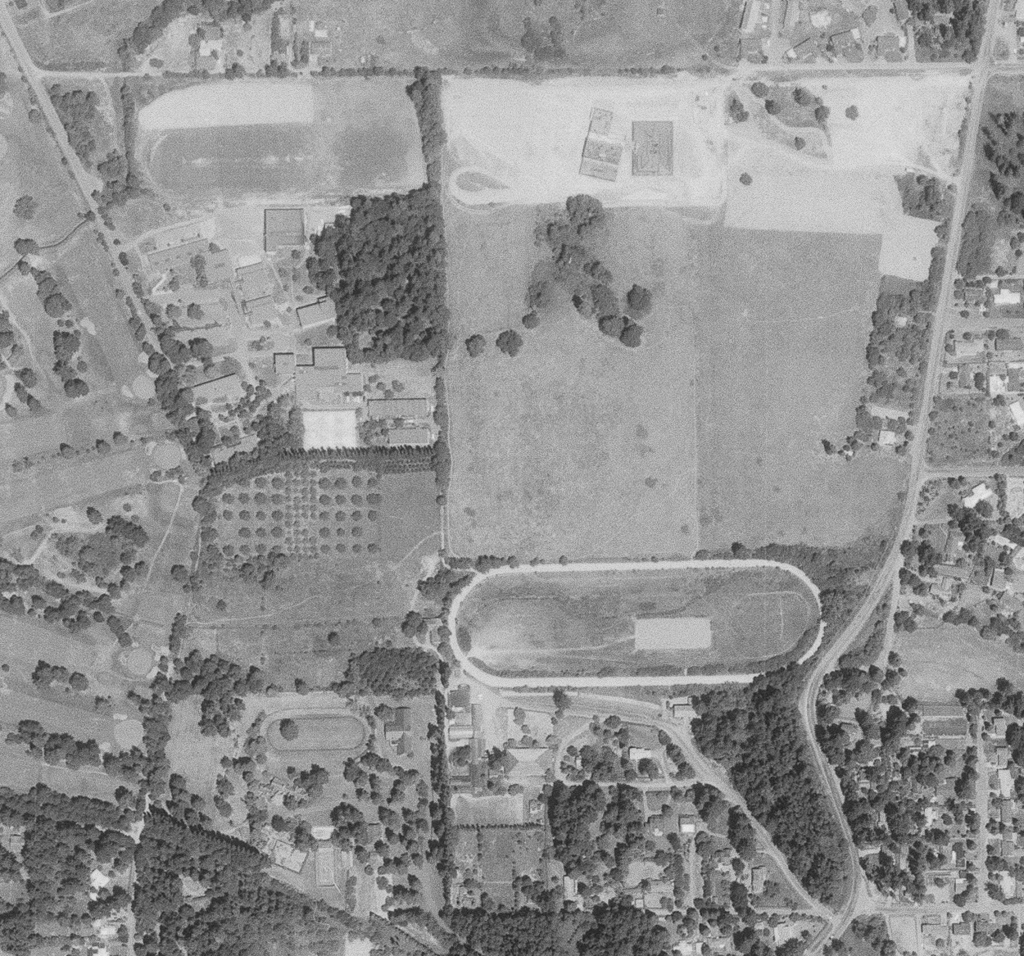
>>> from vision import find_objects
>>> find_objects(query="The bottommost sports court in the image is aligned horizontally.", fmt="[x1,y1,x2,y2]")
[635,618,710,650]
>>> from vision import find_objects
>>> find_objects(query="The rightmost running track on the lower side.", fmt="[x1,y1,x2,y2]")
[449,558,768,687]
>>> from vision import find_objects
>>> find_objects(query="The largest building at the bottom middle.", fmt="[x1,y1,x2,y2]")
[506,747,556,777]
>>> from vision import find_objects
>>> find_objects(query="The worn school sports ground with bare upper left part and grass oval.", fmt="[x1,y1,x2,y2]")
[134,74,428,198]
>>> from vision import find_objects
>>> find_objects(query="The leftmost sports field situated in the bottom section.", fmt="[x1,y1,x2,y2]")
[270,719,363,747]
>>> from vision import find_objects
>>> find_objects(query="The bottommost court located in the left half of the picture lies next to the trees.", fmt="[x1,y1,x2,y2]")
[304,412,356,449]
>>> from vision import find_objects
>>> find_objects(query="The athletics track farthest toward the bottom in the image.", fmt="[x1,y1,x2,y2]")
[262,710,371,756]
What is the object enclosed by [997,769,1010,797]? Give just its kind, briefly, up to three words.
house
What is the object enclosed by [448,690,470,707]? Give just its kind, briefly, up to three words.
building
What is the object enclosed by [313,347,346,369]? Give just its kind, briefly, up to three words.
building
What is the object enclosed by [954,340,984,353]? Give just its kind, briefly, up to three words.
house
